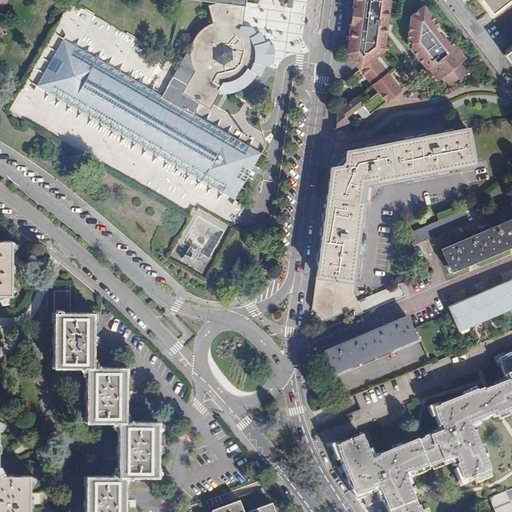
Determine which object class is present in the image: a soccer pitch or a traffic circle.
traffic circle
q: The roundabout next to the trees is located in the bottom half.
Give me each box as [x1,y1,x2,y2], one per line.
[210,330,268,396]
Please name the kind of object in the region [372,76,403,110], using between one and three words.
house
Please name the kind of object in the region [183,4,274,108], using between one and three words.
building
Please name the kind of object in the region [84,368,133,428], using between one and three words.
building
